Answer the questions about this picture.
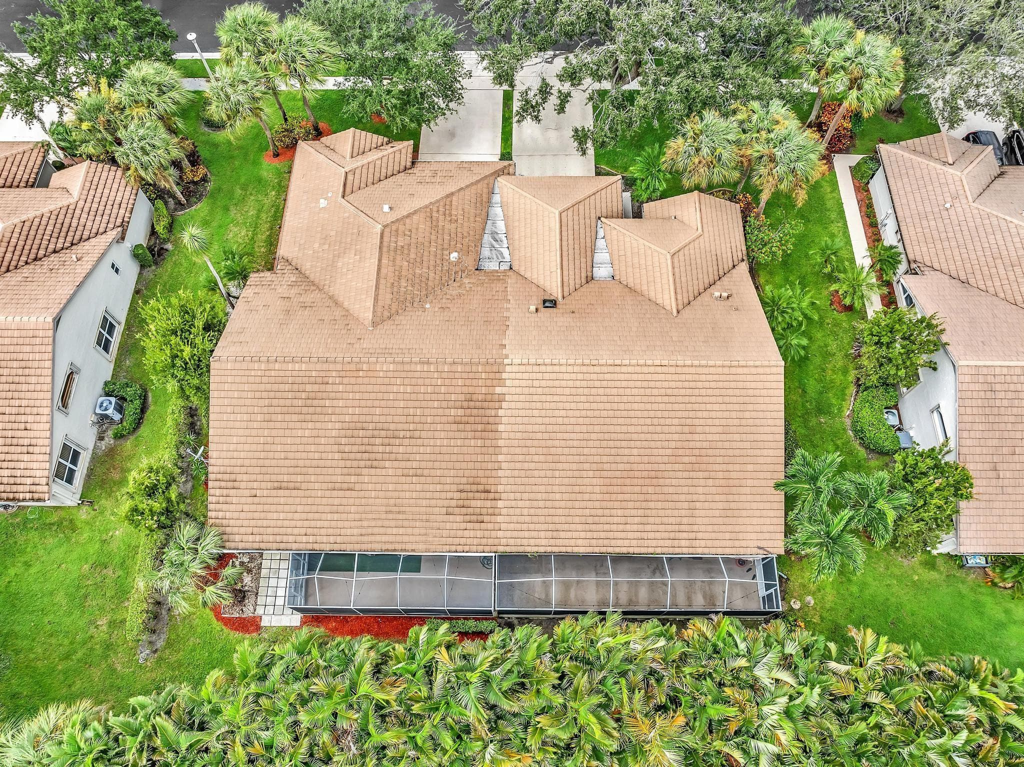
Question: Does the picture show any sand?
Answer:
No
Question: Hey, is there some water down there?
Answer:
No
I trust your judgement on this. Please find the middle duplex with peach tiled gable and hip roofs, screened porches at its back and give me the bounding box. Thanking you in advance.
[206,125,790,581]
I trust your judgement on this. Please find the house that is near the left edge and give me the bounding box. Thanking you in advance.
[0,142,155,512]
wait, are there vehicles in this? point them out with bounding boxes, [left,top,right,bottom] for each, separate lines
[1006,136,1024,161]
[961,131,1008,161]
